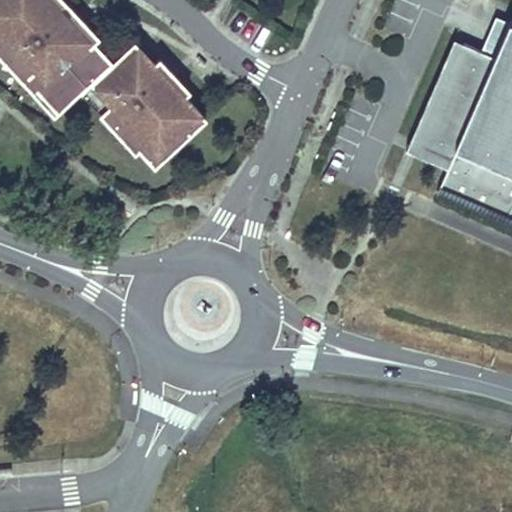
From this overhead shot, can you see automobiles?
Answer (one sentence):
Yes, the frame does contain an automobile.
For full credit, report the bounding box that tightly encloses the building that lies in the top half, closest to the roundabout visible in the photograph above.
[88,44,208,172]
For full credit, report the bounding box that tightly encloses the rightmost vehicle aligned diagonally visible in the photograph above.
[321,152,344,183]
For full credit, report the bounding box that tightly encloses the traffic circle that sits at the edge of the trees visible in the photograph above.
[126,238,279,391]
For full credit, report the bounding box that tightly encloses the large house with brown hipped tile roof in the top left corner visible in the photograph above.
[0,0,111,119]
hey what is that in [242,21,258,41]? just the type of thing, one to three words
car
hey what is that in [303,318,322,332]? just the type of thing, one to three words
car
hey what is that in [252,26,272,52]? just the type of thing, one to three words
vehicle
